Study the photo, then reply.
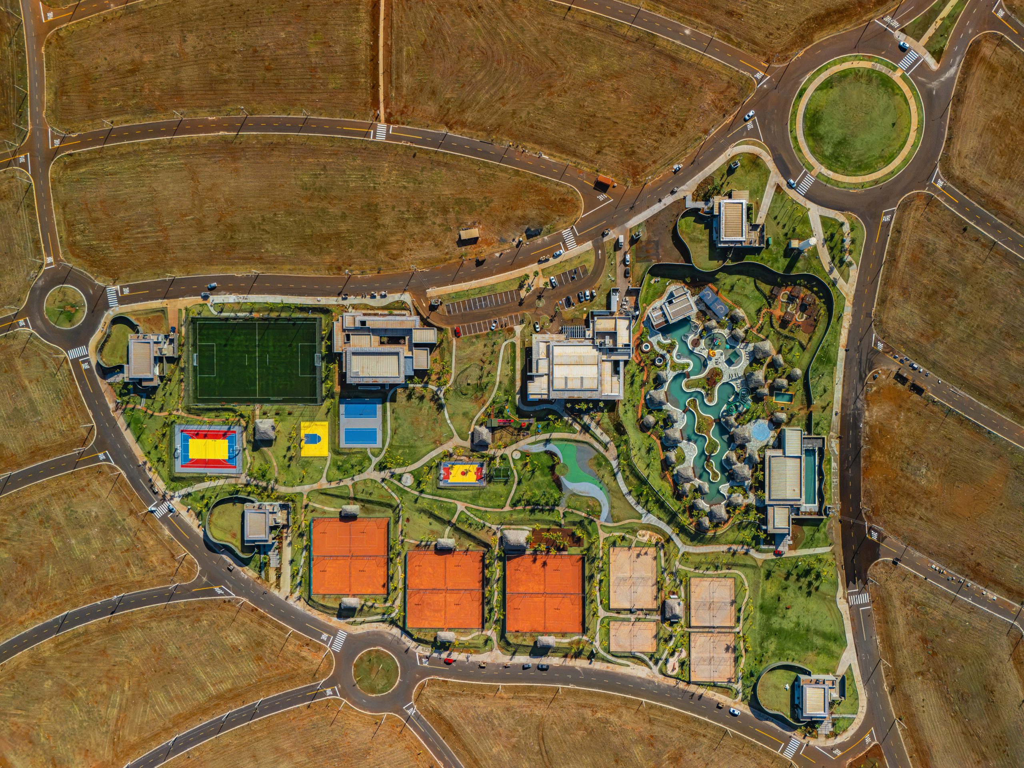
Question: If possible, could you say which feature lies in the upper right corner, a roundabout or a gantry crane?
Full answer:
Looking in the upper right corner, you will find a roundabout.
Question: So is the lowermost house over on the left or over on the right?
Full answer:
The lowermost house appears in the right half of the scene.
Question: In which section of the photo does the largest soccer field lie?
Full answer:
You can find the largest soccer field in the left area of the picture.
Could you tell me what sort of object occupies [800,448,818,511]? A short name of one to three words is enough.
swimming pool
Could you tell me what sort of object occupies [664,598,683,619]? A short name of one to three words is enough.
shed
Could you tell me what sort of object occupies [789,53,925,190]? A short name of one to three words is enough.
roundabout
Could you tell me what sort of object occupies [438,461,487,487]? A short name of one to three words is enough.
sports court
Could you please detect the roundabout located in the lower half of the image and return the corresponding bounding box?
[352,647,400,695]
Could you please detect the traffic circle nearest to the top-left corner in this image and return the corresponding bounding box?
[44,285,87,329]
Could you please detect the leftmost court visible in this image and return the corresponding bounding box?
[172,424,243,474]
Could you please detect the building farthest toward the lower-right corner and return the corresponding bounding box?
[794,671,846,734]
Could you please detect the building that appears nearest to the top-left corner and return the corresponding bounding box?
[125,333,182,385]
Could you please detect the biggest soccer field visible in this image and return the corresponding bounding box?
[187,317,321,405]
